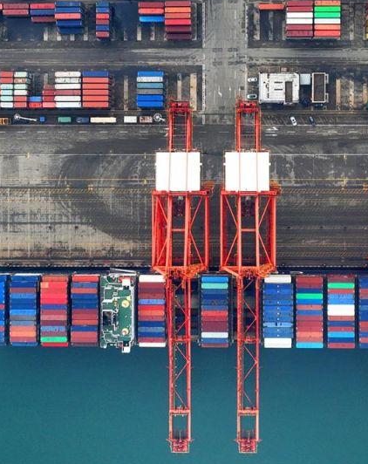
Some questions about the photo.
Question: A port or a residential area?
port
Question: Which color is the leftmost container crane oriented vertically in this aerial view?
red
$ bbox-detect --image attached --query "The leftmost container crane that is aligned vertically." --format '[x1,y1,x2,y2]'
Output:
[149,101,217,453]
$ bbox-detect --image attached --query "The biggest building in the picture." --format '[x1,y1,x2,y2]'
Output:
[259,74,298,105]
